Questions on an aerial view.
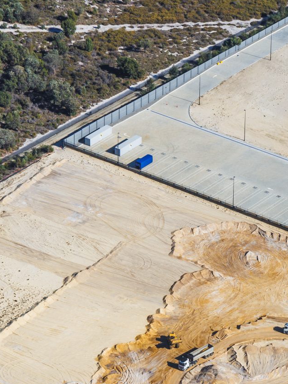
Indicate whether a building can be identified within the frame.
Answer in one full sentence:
No, the frame has no building in it.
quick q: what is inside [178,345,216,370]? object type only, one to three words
truck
